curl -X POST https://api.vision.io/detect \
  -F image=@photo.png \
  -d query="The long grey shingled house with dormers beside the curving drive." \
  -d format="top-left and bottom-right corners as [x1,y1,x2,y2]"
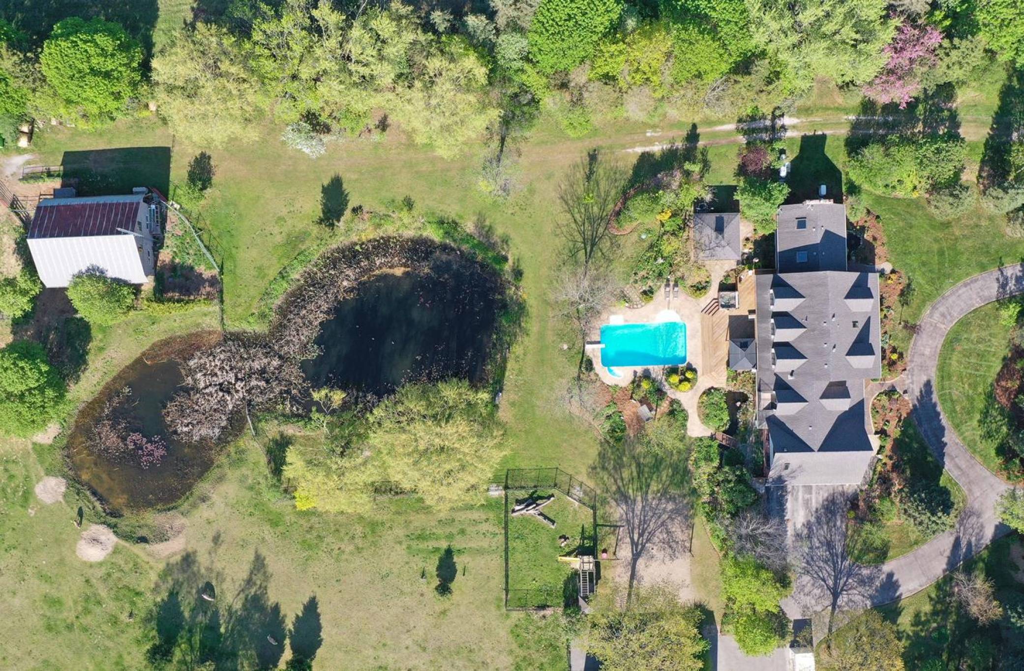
[752,198,882,488]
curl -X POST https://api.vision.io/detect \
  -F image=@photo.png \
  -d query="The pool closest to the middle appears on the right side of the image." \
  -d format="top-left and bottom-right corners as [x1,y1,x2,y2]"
[599,309,688,368]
